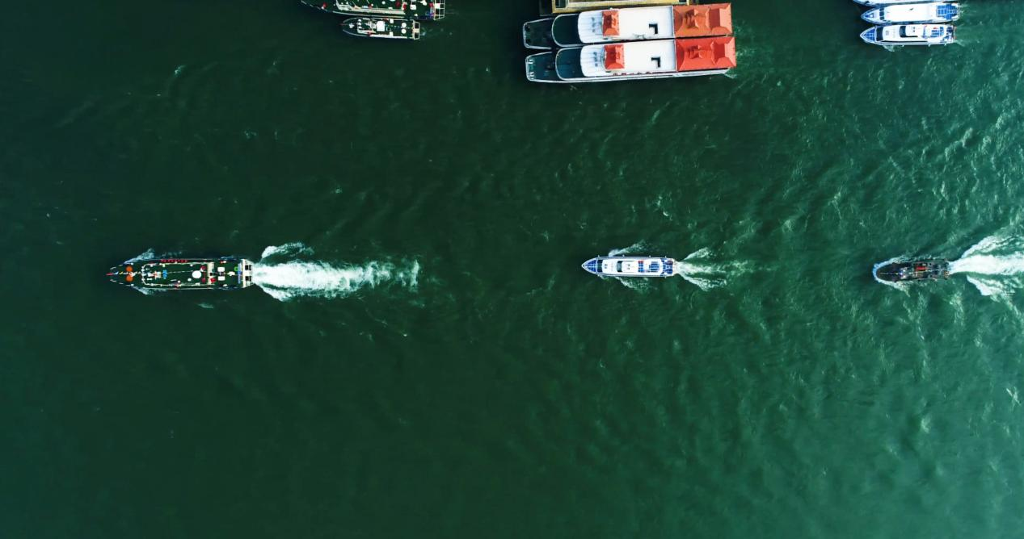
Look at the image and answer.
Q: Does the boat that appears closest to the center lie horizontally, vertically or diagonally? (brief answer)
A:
horizontally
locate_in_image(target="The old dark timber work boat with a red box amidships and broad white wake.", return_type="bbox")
[879,260,952,281]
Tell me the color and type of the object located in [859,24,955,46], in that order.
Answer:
white boat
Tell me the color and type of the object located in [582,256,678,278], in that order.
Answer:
white boat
